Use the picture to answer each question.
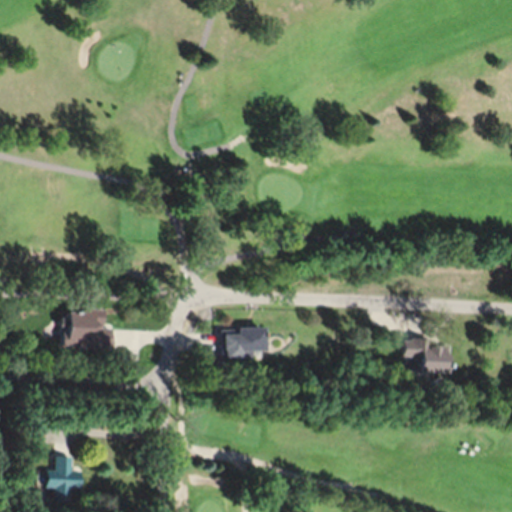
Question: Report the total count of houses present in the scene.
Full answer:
Altogether the scene contains 4 houses.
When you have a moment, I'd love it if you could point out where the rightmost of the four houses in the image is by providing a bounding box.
[403,337,455,374]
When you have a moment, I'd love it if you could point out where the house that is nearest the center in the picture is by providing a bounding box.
[219,326,268,358]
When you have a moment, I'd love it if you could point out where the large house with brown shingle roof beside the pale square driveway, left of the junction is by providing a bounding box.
[64,309,115,348]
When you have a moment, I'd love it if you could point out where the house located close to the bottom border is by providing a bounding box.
[38,454,85,497]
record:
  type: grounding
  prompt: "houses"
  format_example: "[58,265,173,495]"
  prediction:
[403,337,455,374]
[219,326,268,358]
[38,454,85,497]
[64,309,115,348]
